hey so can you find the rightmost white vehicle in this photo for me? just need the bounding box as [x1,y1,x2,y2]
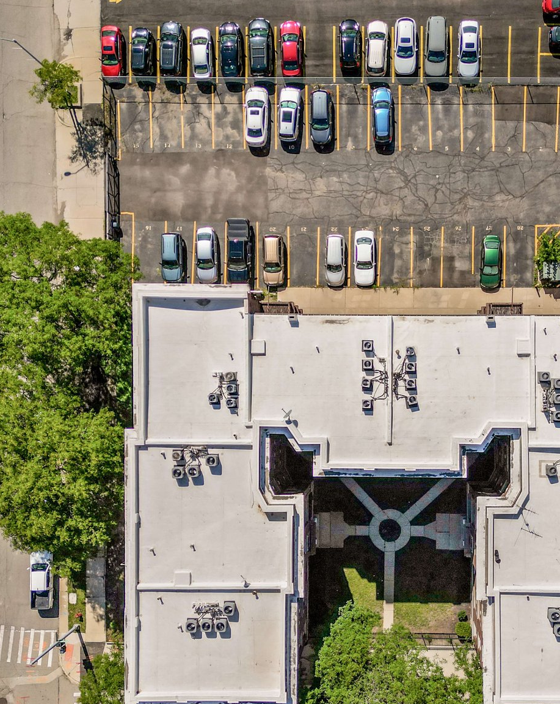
[456,19,482,79]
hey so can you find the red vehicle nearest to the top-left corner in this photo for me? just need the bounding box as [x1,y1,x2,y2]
[97,25,125,78]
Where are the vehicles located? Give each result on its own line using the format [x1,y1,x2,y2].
[260,234,285,285]
[223,217,252,283]
[456,19,482,79]
[370,86,396,144]
[337,19,363,73]
[245,17,274,78]
[276,86,302,142]
[158,232,186,282]
[542,0,560,21]
[478,235,504,289]
[549,26,560,52]
[157,21,186,78]
[352,229,378,285]
[243,86,269,147]
[25,549,55,610]
[423,13,451,78]
[323,234,347,287]
[215,21,243,79]
[308,87,333,146]
[189,29,214,79]
[392,15,420,77]
[278,21,303,78]
[129,28,155,77]
[192,227,219,283]
[97,25,125,78]
[363,19,391,79]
